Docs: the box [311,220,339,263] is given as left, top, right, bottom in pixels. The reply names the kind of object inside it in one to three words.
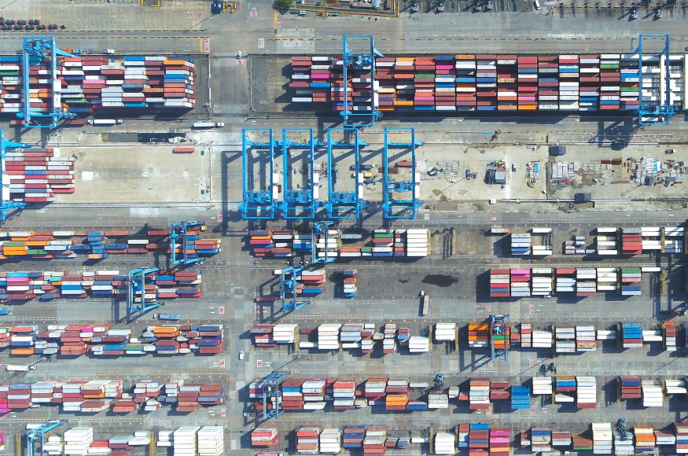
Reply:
crane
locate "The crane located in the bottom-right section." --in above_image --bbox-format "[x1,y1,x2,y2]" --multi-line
[491,313,511,360]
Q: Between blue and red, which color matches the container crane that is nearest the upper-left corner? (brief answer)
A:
blue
